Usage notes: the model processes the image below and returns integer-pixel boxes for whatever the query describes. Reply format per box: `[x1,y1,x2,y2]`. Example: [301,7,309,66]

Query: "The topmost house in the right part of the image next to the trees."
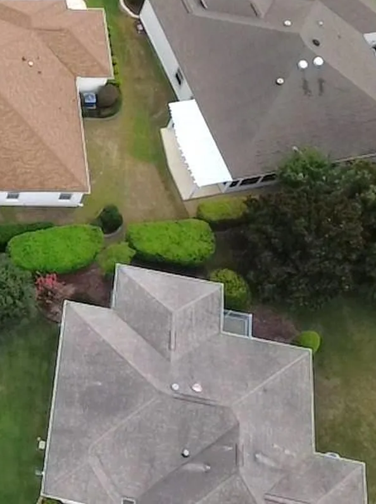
[142,0,376,202]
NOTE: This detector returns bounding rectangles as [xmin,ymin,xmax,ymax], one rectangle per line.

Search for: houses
[142,0,376,202]
[0,0,115,212]
[40,263,368,504]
